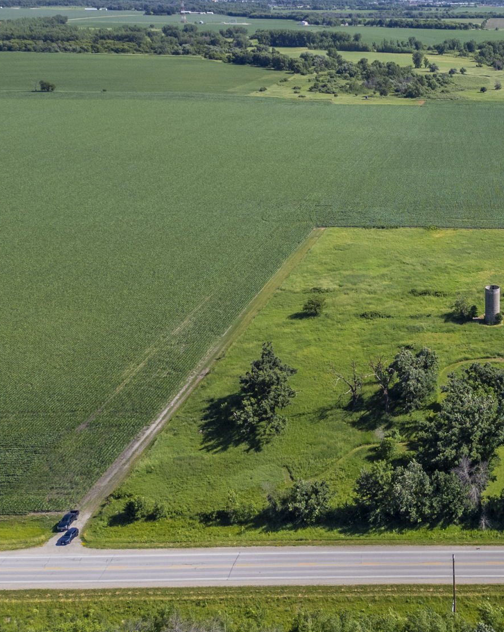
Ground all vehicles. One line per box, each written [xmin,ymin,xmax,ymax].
[57,526,79,544]
[57,509,82,529]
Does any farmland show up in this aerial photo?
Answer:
Yes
